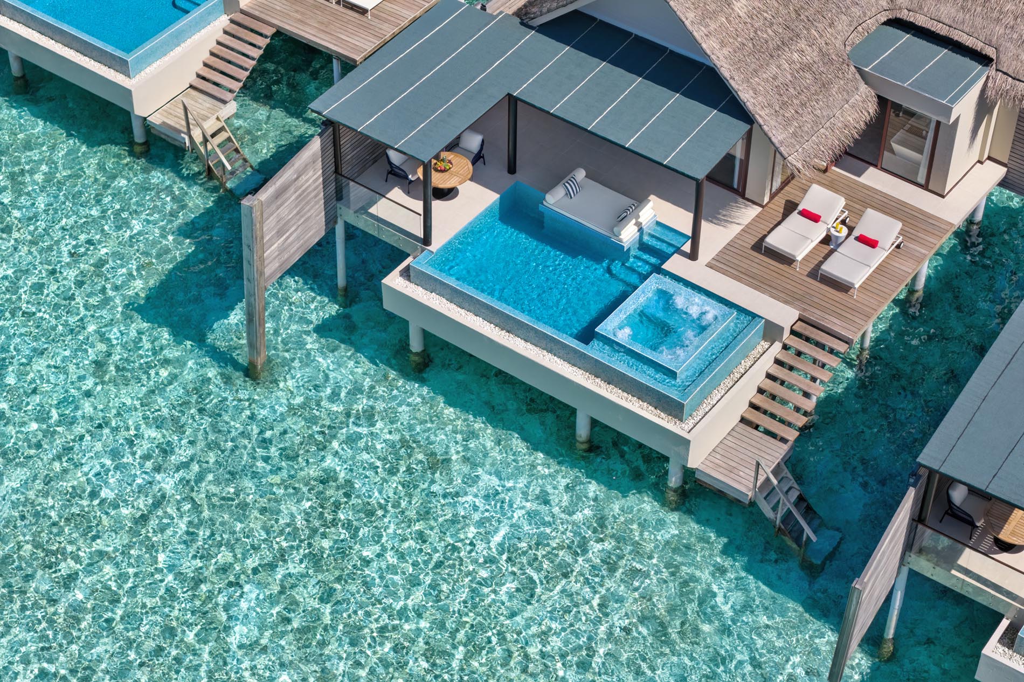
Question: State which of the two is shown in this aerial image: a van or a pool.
pool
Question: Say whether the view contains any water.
Yes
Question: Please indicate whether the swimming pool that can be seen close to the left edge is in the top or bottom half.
top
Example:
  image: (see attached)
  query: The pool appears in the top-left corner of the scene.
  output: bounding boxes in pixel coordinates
[0,0,233,141]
